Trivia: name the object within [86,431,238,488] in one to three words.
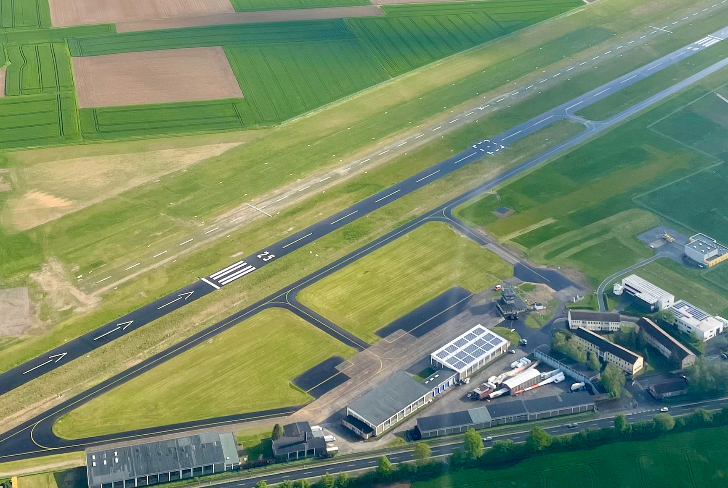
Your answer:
hangar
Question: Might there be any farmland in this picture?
Yes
